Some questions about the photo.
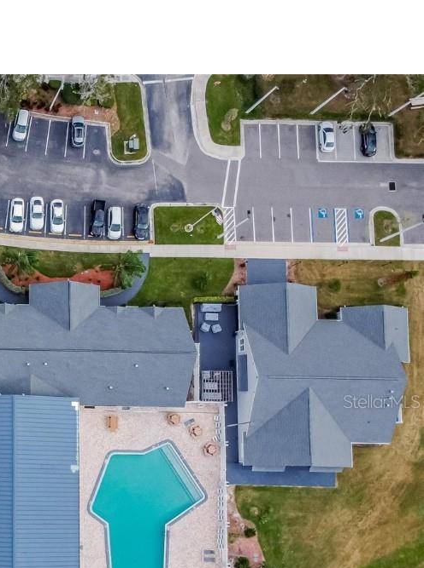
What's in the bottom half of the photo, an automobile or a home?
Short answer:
home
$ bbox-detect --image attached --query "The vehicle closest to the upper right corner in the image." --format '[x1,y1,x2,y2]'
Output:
[361,122,382,154]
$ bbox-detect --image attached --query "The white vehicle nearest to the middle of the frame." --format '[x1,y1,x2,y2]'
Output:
[108,206,124,237]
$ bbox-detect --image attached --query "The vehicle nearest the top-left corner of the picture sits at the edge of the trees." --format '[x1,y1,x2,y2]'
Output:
[14,106,32,141]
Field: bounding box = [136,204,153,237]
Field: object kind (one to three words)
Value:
car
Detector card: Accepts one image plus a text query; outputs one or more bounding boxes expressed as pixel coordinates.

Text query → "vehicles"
[14,106,32,141]
[51,198,67,231]
[10,197,26,230]
[320,120,340,151]
[31,196,47,229]
[72,114,88,146]
[91,198,108,234]
[136,204,153,237]
[108,206,124,237]
[361,122,382,154]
